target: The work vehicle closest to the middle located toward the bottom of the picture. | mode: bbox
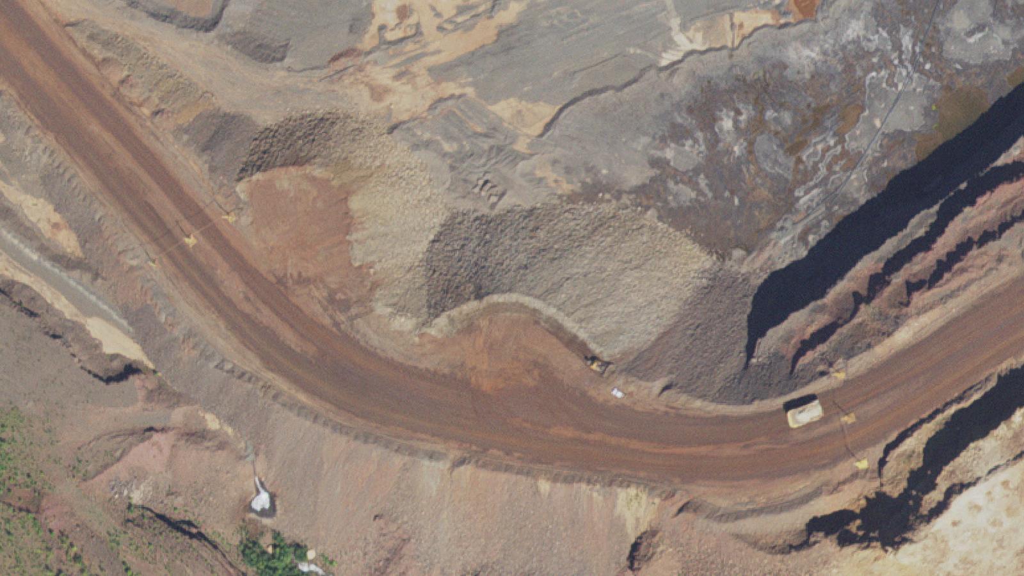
[587,357,609,377]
